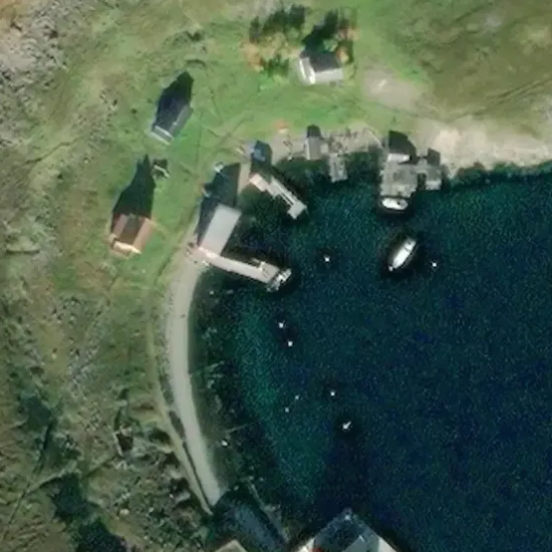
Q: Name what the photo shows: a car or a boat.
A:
boat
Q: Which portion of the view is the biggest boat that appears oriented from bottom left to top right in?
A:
right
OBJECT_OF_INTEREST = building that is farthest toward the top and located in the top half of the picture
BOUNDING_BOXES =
[301,58,344,91]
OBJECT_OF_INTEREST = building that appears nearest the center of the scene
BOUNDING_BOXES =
[196,203,240,260]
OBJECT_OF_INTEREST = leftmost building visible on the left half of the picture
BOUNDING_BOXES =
[109,216,152,264]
